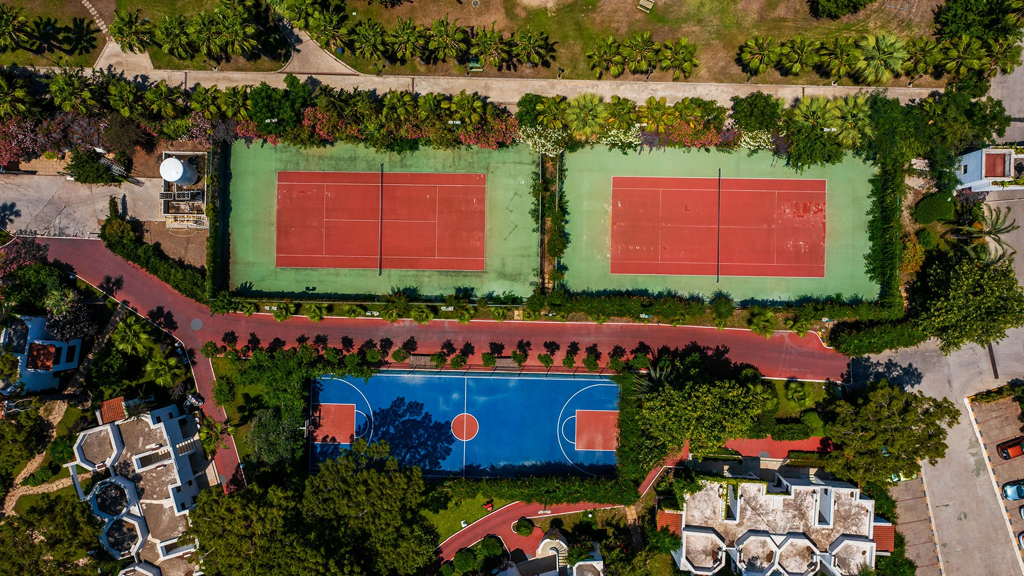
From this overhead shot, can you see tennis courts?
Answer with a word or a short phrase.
Yes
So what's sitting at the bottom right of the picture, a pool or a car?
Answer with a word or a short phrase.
car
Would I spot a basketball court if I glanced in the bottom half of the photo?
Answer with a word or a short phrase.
Yes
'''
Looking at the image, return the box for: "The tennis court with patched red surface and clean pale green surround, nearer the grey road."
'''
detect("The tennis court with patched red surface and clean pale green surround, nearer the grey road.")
[558,141,880,306]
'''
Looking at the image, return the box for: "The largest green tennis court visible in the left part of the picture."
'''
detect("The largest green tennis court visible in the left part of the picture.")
[226,138,540,301]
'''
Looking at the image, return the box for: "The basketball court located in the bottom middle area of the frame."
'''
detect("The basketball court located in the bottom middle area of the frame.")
[309,369,621,478]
